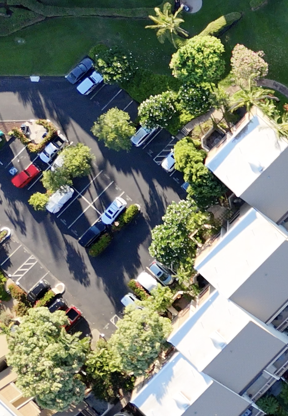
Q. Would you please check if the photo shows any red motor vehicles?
Yes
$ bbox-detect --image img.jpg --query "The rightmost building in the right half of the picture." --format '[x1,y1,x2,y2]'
[129,111,288,416]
